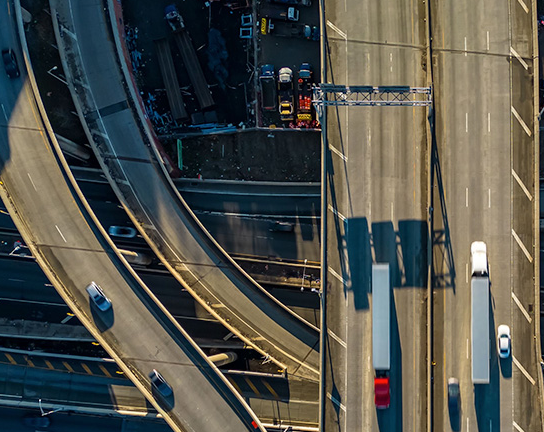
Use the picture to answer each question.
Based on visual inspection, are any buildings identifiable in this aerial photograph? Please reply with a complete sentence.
No, no building can be seen from above.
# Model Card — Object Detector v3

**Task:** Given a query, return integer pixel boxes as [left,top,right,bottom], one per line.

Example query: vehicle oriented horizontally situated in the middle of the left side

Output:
[110,225,138,238]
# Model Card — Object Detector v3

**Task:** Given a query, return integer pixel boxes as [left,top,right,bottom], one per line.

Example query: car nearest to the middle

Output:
[271,220,296,233]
